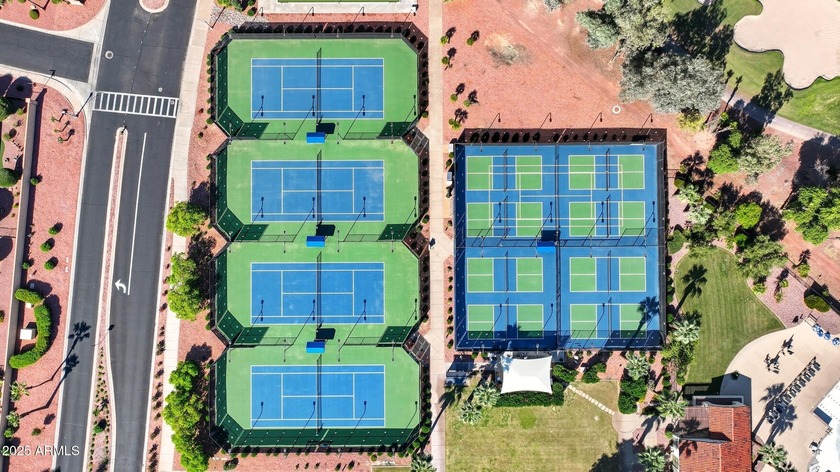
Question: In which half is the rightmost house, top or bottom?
bottom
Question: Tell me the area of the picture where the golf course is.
top right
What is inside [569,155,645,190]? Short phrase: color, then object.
green sports court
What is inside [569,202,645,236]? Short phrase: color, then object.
green sports court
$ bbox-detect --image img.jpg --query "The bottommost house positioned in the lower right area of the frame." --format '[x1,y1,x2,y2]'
[671,392,753,472]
